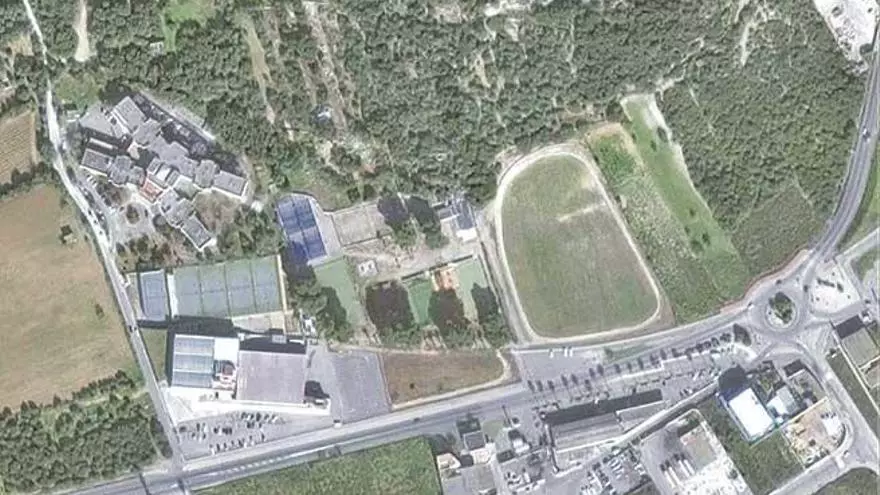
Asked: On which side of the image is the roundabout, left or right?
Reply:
right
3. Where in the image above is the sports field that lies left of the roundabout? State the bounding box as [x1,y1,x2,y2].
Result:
[495,150,660,342]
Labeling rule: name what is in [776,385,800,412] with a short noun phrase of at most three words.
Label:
house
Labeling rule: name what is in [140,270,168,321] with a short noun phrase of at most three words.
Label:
tennis court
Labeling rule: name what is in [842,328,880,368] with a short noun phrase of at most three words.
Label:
building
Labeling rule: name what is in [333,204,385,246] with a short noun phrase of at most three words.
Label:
sports court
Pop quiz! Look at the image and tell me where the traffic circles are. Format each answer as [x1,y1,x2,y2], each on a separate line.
[751,277,813,339]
